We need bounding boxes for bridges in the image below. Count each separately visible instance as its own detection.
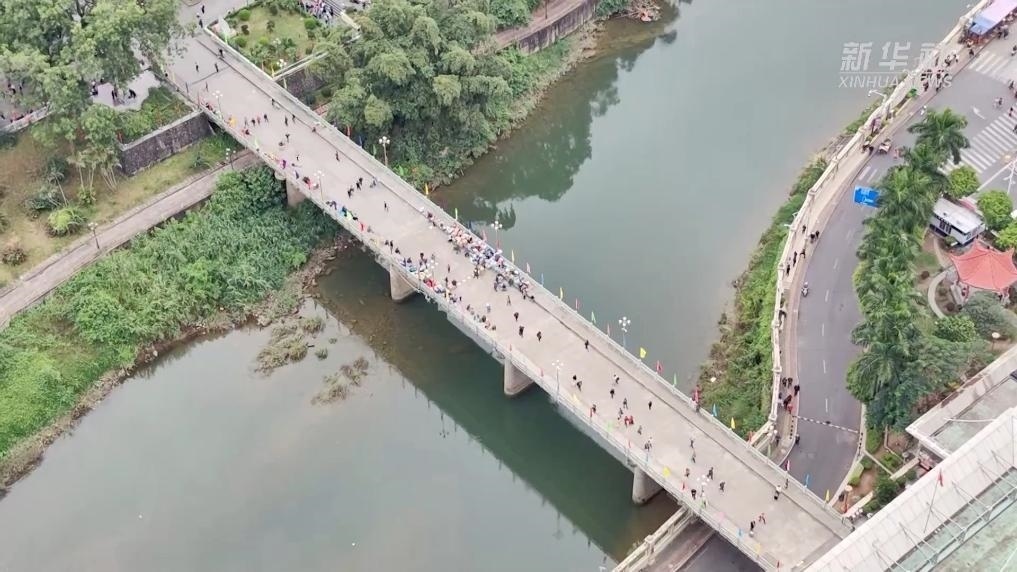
[170,44,852,572]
